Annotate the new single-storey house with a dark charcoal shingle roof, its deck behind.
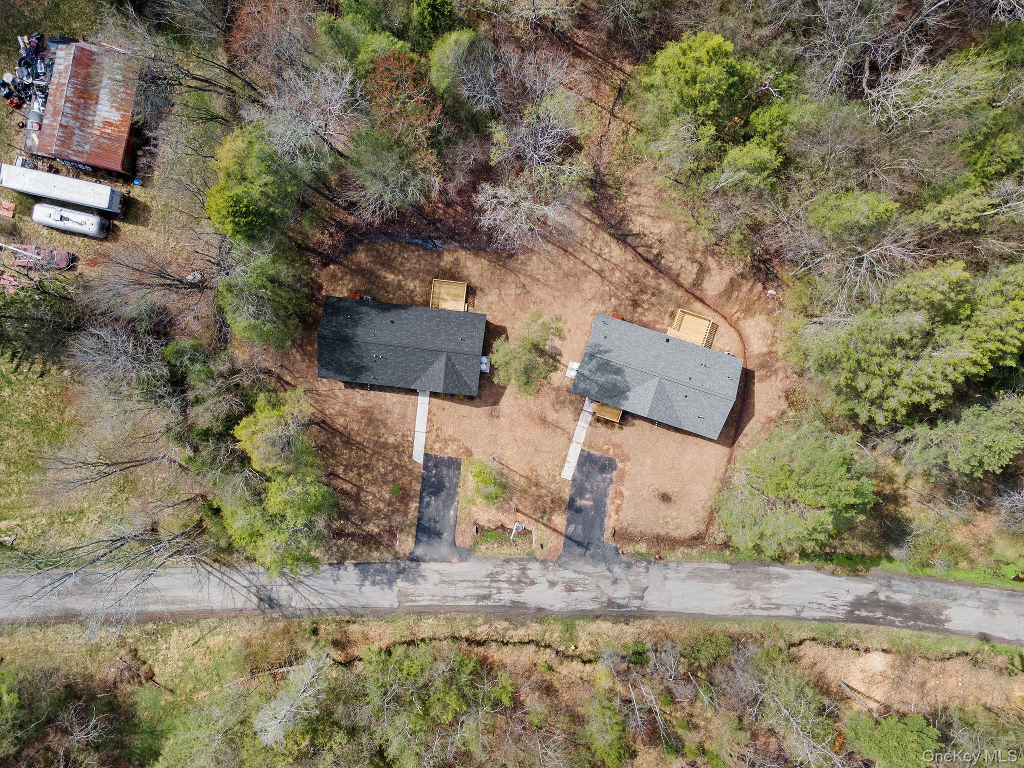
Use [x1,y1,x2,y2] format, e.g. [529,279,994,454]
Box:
[317,293,487,396]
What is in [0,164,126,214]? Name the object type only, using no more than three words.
trailer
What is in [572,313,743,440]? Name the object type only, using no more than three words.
house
